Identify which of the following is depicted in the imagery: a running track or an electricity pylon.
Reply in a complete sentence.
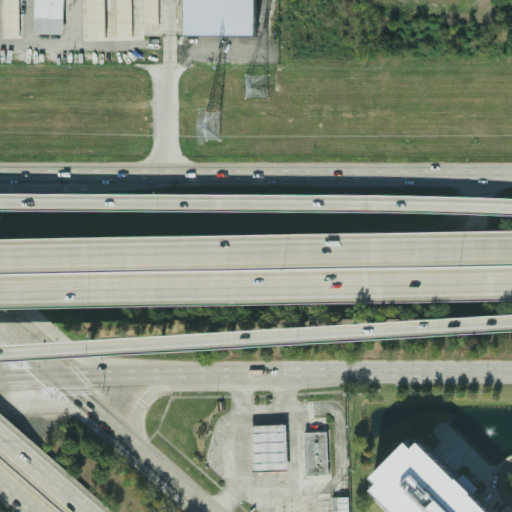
Looking from above, you can make out an electricity pylon.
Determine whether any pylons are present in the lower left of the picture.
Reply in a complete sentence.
No, looking in the lower left of the picture, there is no pylon.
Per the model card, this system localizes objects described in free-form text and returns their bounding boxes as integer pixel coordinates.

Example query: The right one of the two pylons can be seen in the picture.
[244,69,270,102]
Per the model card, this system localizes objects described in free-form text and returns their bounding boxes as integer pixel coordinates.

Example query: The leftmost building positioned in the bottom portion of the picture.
[305,426,330,476]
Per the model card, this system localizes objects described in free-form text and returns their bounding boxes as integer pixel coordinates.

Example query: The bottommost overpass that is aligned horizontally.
[0,314,512,360]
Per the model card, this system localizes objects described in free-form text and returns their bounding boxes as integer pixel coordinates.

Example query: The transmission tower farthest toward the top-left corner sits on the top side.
[200,106,222,144]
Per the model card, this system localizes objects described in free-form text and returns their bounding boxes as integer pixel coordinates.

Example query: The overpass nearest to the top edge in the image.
[0,194,512,216]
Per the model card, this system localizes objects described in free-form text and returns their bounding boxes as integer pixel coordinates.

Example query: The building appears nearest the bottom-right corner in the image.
[367,442,488,512]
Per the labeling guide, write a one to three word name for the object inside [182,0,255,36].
building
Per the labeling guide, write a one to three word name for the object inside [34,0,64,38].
building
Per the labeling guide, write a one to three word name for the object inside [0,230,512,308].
overpass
